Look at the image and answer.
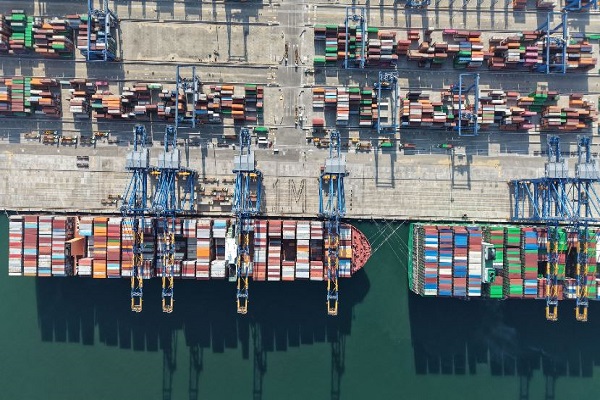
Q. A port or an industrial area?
port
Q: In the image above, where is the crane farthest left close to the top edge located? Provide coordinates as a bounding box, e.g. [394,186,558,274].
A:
[86,0,122,64]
